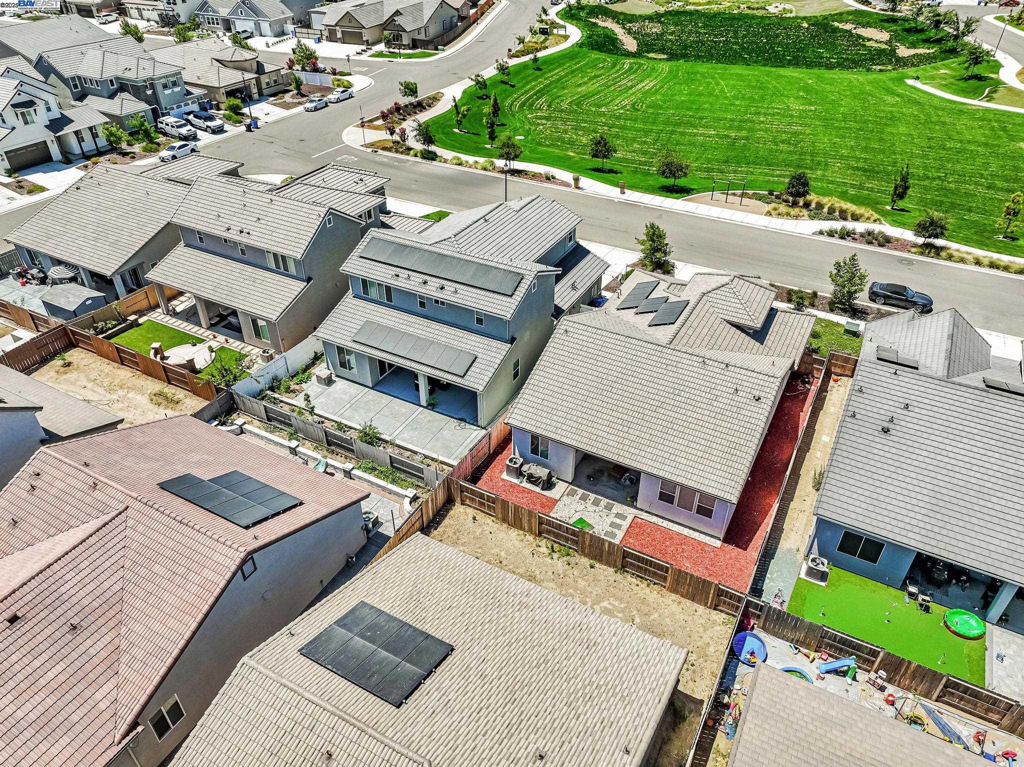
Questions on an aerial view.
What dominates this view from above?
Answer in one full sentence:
The bulk of the photo consists of buildings.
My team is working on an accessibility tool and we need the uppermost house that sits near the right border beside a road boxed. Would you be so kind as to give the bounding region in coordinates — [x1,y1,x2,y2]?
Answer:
[806,302,1024,624]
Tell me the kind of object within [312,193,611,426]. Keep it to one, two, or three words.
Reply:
house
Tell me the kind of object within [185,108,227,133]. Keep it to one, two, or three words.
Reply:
vehicle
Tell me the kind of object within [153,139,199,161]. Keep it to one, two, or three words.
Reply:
car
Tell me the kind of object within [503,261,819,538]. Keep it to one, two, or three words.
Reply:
house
